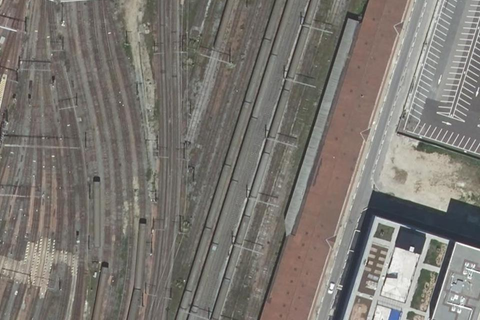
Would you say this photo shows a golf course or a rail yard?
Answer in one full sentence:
It's a rail yard.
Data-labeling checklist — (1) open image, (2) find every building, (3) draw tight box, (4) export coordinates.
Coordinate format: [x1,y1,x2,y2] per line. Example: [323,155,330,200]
[336,215,452,320]
[258,0,409,320]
